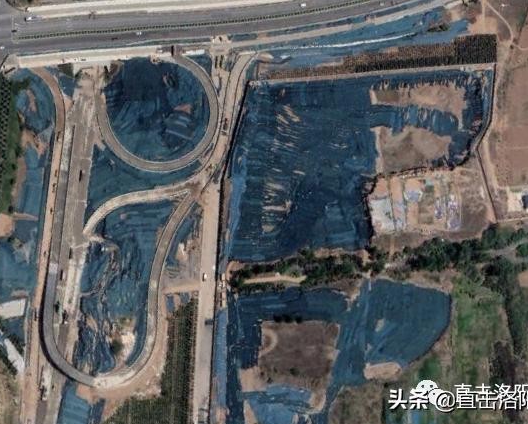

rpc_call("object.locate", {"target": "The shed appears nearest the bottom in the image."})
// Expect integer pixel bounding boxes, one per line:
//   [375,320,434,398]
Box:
[2,338,27,374]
